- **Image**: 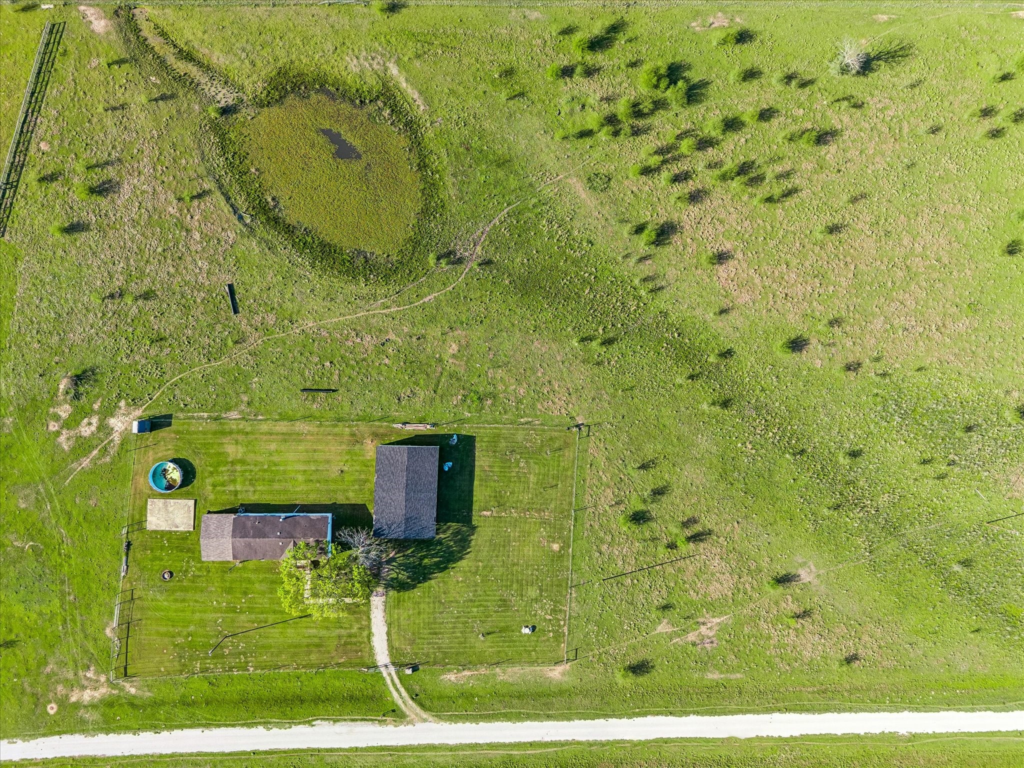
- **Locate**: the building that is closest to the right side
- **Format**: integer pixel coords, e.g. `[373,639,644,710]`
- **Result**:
[374,445,438,539]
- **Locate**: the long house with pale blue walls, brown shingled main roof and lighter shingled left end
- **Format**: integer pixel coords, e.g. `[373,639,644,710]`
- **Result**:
[198,513,333,563]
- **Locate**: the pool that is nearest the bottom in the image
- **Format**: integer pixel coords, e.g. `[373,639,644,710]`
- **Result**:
[148,456,187,495]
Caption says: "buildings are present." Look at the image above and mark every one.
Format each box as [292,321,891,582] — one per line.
[374,445,438,539]
[133,420,151,433]
[198,513,333,563]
